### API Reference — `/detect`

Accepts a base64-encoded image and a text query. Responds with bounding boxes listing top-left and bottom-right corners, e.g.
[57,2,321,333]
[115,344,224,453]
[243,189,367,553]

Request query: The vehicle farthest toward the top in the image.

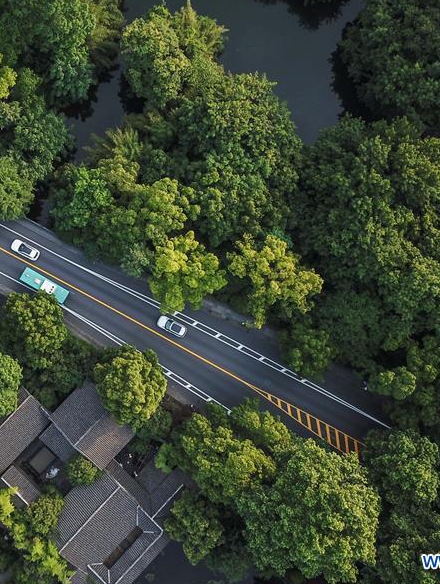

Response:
[10,238,42,262]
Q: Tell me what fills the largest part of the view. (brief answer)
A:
trees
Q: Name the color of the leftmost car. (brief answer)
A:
white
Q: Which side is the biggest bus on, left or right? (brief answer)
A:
left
